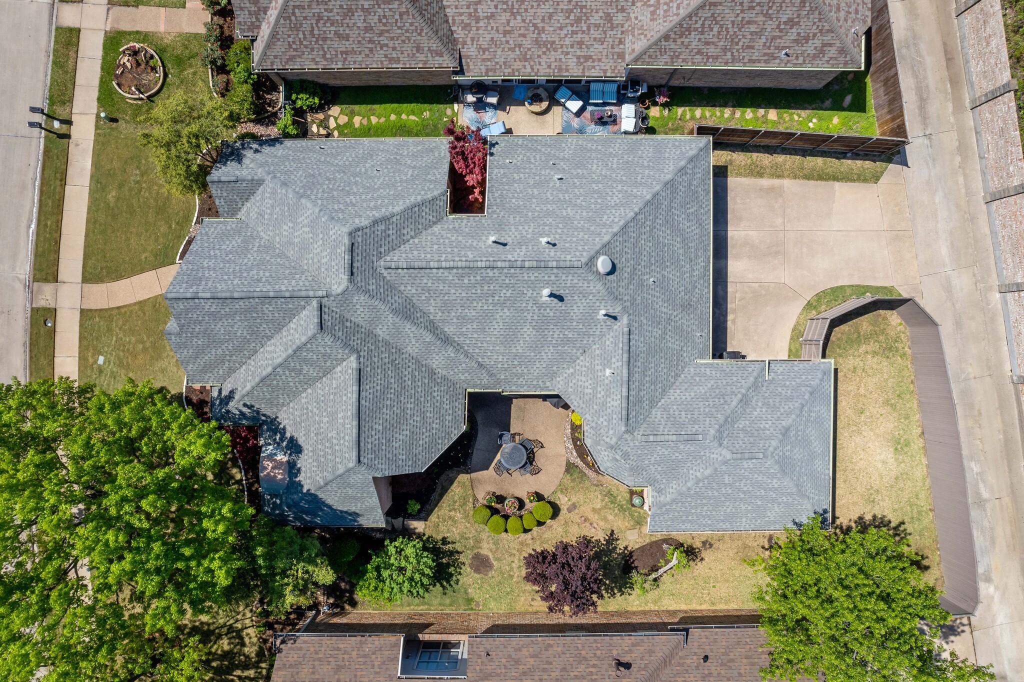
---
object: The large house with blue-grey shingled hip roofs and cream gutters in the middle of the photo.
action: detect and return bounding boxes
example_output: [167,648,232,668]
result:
[163,133,835,534]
